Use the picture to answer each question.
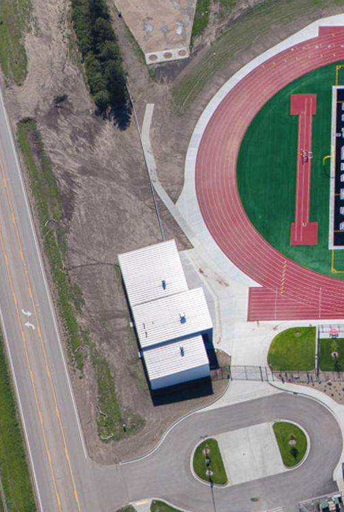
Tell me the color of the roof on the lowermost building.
white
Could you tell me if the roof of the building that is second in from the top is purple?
No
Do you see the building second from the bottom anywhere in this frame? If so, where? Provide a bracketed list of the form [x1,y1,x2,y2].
[133,288,214,359]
